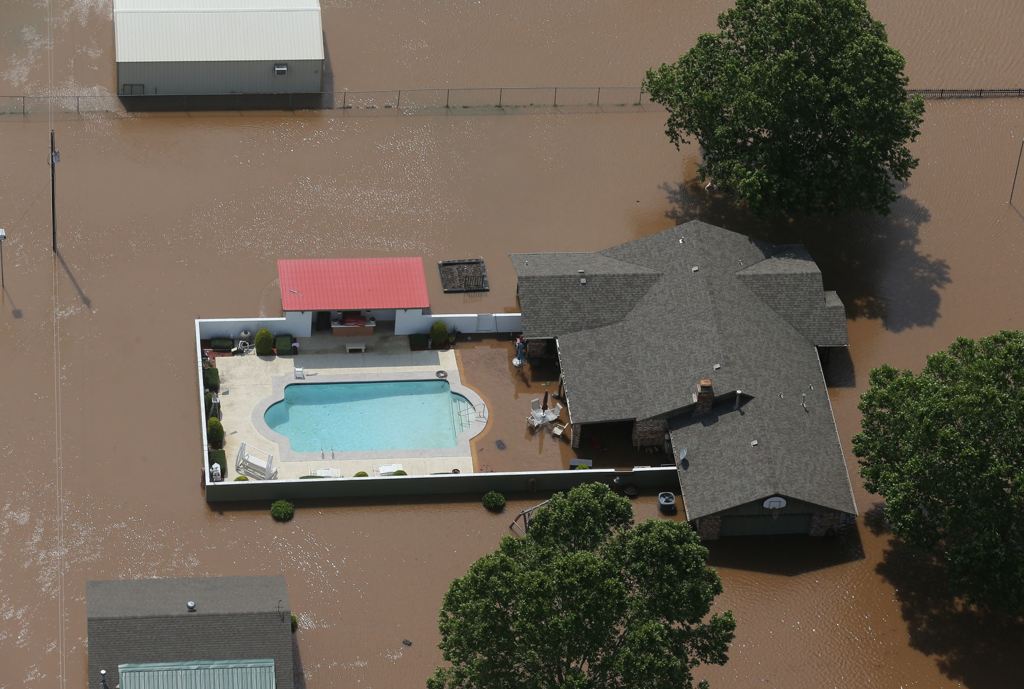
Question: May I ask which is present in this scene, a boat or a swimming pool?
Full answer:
I can see a swimming pool in this picture.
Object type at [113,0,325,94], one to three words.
barn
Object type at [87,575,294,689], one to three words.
shed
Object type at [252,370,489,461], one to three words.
swimming pool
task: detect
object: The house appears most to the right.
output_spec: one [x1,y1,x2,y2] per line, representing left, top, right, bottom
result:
[509,221,859,540]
